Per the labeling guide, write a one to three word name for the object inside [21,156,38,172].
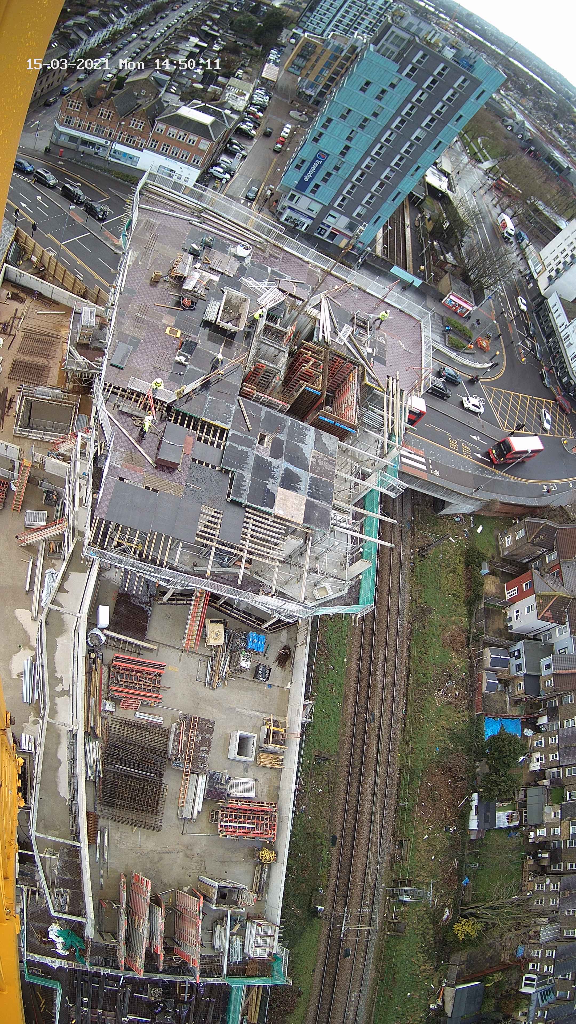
car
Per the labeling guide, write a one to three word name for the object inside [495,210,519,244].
truck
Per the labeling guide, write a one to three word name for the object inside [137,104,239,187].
building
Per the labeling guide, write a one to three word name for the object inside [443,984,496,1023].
shed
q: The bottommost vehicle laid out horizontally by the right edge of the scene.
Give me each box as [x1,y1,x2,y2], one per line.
[481,435,548,468]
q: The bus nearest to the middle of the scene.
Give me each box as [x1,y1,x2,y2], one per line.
[391,391,426,426]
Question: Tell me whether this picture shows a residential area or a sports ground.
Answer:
residential area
